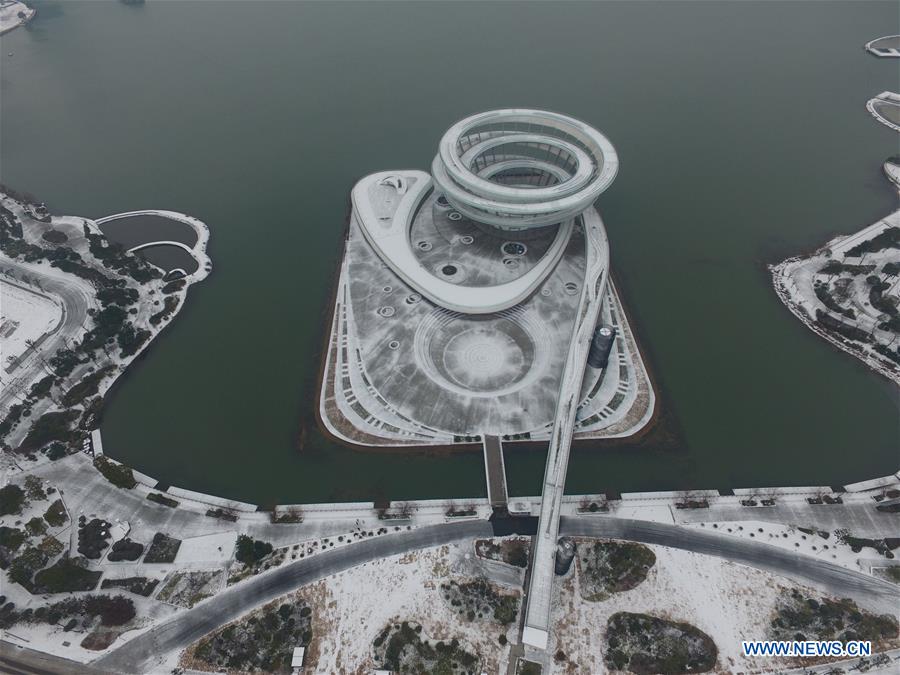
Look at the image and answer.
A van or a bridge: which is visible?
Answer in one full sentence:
Looking from above, you can make out a bridge.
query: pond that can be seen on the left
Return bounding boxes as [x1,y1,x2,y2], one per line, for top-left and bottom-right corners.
[99,217,199,280]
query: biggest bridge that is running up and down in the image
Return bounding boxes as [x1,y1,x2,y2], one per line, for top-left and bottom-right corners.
[522,149,609,653]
